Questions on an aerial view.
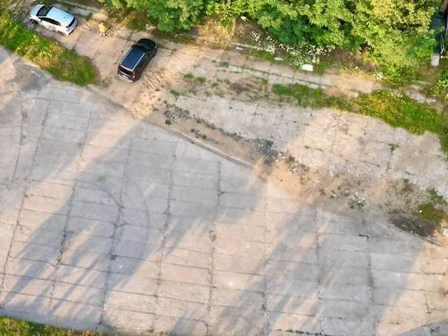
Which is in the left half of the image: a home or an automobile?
automobile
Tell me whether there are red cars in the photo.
No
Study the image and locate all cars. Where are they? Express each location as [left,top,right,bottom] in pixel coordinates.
[114,29,162,81]
[25,0,81,35]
